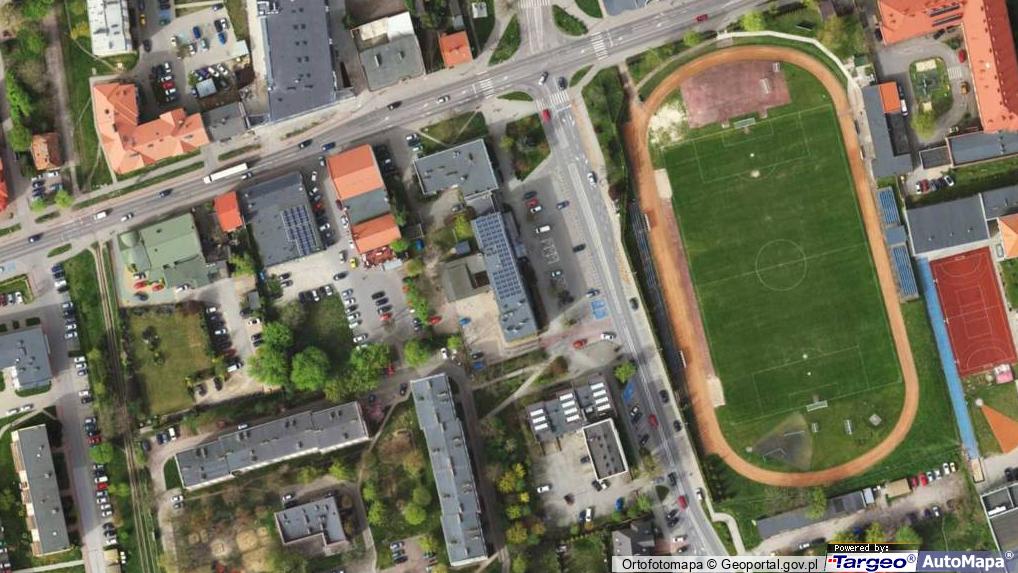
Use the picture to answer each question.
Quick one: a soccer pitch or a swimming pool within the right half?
soccer pitch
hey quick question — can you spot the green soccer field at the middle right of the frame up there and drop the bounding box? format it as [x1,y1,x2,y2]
[661,101,903,427]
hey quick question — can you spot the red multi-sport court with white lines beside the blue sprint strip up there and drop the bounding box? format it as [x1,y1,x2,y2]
[930,247,1016,376]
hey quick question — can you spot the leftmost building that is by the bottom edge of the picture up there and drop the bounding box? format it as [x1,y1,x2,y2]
[14,424,72,556]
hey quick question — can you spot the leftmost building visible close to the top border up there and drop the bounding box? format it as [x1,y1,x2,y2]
[87,0,132,58]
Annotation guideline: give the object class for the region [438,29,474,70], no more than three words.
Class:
house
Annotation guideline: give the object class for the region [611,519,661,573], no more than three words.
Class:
house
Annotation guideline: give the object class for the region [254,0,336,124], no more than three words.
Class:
building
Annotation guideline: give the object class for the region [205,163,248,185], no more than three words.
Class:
truck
